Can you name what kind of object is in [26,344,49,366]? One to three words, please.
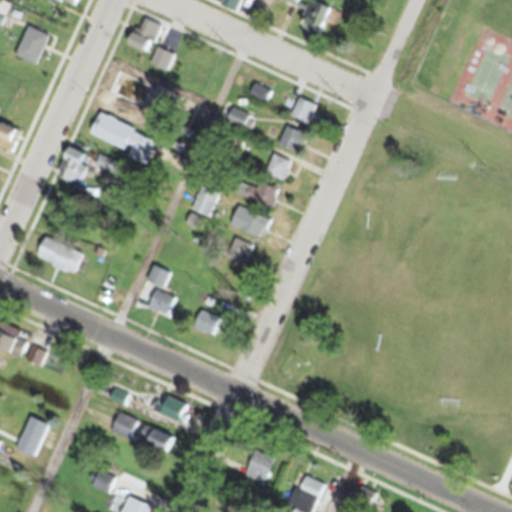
building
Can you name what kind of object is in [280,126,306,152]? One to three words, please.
house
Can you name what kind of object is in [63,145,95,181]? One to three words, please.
house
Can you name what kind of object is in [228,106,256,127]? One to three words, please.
building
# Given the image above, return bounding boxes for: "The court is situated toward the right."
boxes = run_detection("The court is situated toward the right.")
[452,27,512,131]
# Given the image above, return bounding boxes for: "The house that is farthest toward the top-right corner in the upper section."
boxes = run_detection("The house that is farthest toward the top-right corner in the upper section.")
[296,0,333,30]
